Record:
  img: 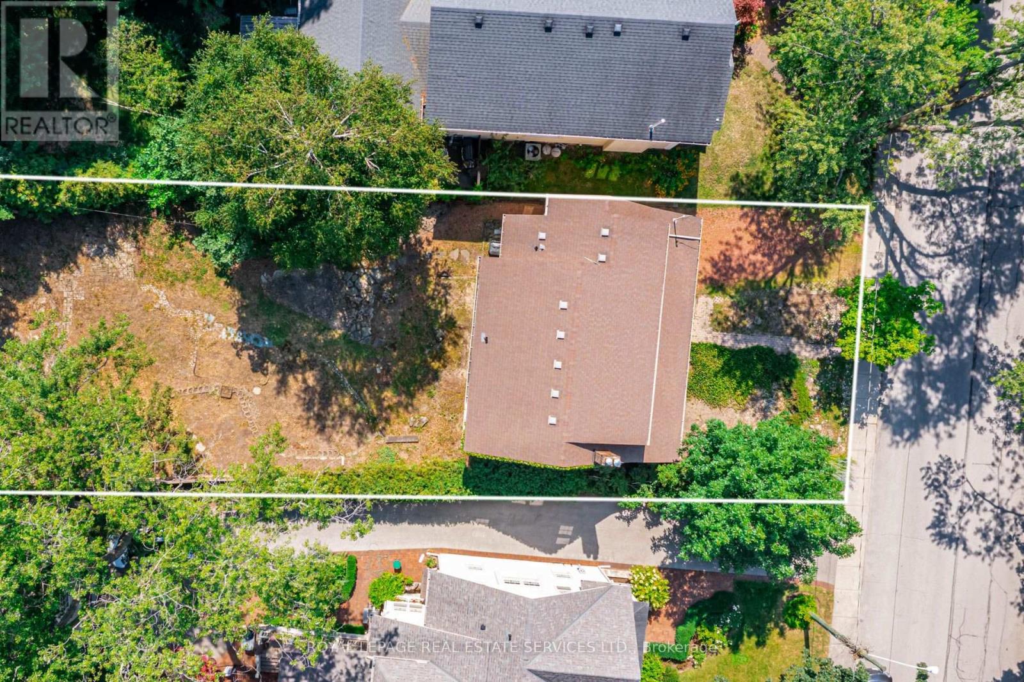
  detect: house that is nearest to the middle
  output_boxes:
[464,196,703,470]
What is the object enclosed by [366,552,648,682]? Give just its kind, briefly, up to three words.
house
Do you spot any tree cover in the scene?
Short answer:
Yes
